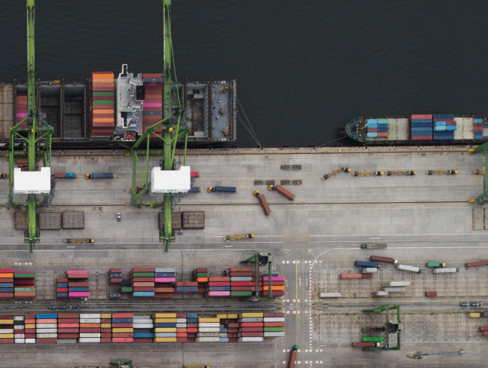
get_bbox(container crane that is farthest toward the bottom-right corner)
[361,303,404,352]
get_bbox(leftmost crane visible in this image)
[0,0,57,255]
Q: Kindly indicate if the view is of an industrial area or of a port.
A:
port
